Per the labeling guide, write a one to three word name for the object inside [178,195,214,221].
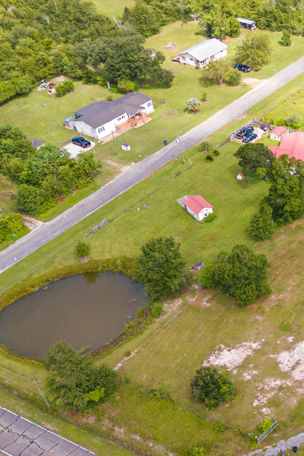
shed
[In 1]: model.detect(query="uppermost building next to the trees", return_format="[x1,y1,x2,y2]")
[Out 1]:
[177,40,228,67]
